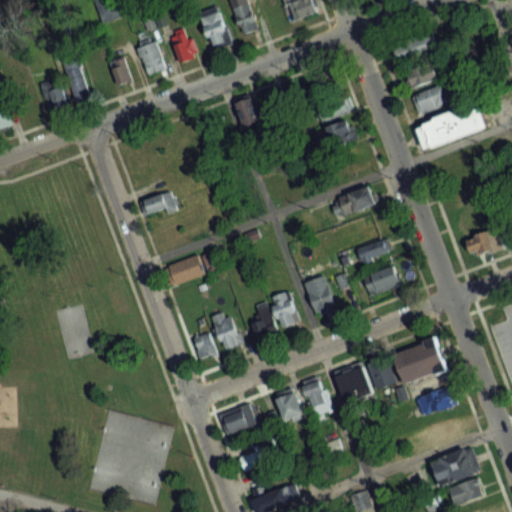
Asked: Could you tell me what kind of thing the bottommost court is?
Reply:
basketball court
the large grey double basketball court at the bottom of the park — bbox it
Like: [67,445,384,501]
[91,410,175,504]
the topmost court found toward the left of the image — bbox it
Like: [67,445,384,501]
[58,305,94,358]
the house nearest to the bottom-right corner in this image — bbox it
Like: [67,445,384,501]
[450,479,486,508]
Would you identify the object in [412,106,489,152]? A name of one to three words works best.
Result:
building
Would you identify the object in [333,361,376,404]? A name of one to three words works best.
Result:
building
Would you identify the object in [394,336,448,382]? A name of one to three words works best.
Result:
house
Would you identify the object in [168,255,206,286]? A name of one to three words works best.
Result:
house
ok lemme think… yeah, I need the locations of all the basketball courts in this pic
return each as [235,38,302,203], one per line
[58,305,94,358]
[91,410,175,504]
